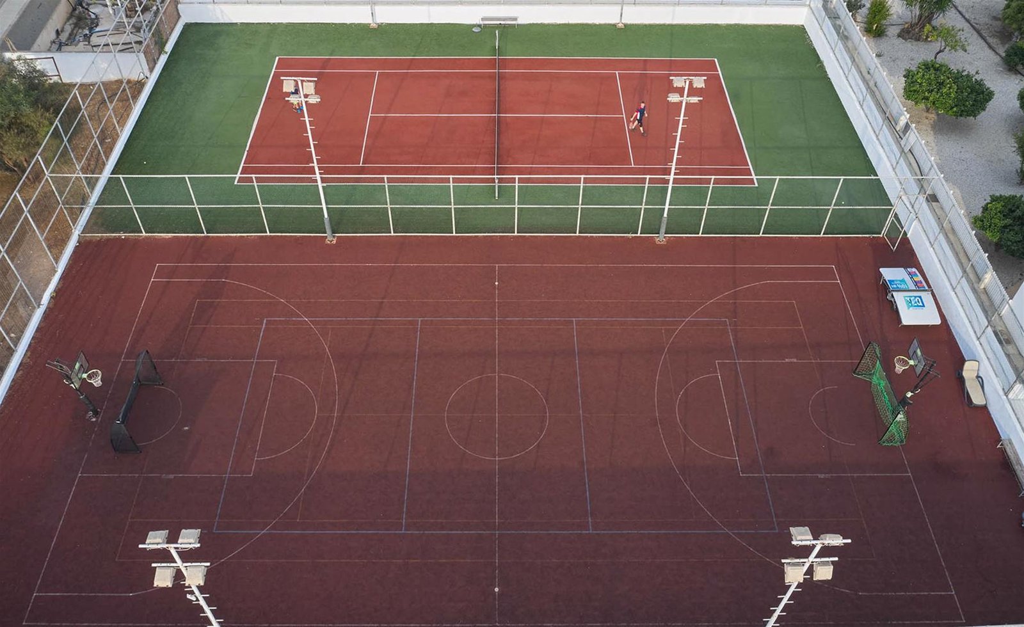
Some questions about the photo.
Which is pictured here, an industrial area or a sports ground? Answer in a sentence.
This looks like a sports ground.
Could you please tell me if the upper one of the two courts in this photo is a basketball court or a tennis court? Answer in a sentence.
It looks like the upper one of the two courts is a tennis court.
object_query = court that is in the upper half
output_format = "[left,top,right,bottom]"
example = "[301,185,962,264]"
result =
[80,22,907,237]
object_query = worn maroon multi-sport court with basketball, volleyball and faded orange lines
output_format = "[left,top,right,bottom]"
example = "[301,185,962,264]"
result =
[0,234,1024,627]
